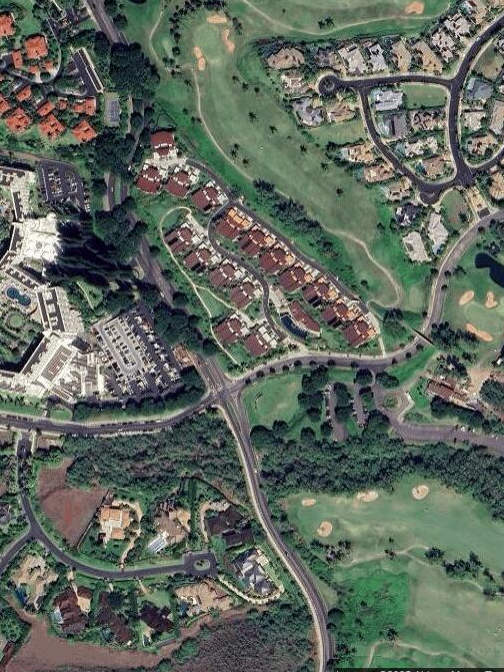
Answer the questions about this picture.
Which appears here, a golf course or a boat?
golf course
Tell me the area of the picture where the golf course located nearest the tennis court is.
top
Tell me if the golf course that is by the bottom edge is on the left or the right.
right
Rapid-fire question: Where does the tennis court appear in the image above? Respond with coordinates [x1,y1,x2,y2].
[104,93,122,125]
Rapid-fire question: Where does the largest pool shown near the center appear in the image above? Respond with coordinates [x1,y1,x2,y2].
[281,315,309,340]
